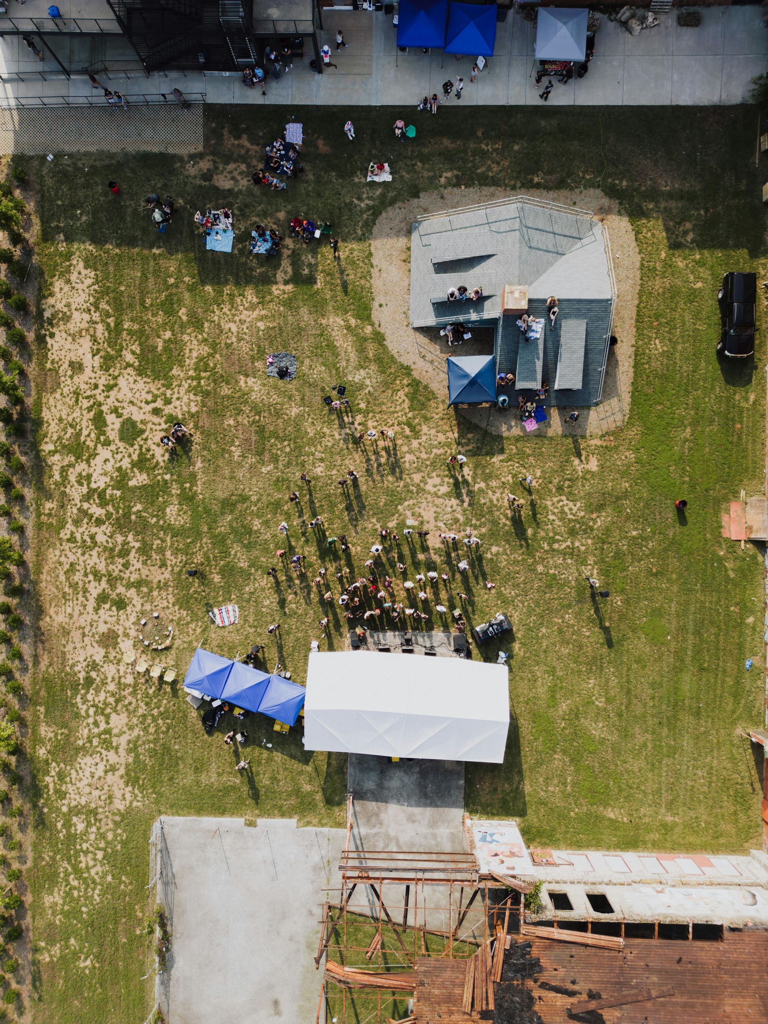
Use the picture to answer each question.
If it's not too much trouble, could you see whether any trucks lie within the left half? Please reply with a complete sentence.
No, within the left half there is no truck.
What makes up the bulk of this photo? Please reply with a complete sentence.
The scene is dominated by grass.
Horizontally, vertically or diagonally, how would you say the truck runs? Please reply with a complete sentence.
I'd say the truck is aligned vertically in the picture.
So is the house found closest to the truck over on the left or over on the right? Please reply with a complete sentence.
It is on the right.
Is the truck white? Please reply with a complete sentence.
No, from above the truck looks black.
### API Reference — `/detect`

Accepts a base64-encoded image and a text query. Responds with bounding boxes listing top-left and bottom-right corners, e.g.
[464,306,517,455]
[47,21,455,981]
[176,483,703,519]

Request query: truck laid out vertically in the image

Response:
[715,273,760,361]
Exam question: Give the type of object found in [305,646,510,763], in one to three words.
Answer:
tent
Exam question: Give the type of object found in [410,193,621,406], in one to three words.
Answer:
house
